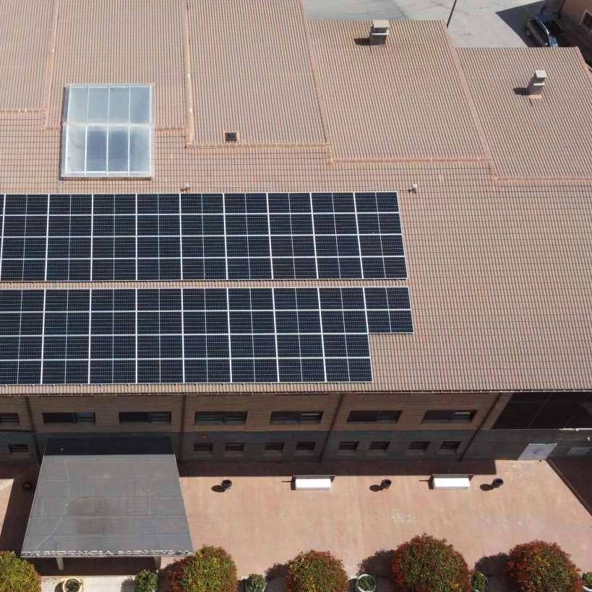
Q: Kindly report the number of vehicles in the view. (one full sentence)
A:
The photo contains exactly 1 vehicle.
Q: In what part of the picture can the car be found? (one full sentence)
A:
The car sits in the top right section of the image.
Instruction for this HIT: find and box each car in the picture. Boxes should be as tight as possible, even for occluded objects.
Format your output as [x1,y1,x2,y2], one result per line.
[514,6,573,48]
